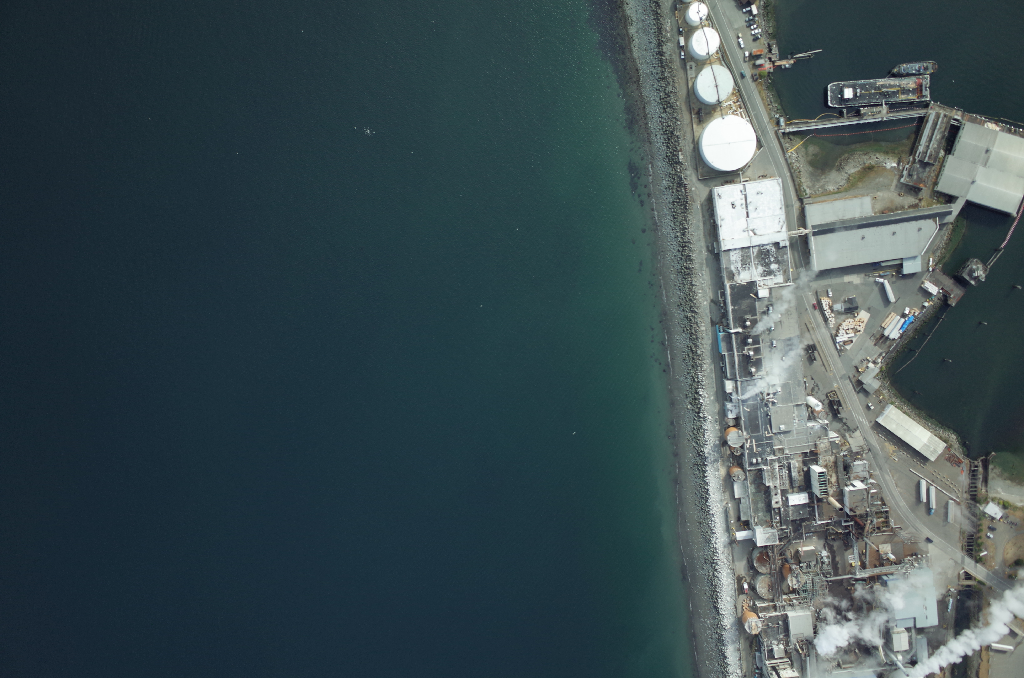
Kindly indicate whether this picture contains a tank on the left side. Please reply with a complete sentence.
No, no tank appears on the left side.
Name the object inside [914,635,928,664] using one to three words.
shed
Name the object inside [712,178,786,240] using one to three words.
building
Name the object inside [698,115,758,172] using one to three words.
storage tank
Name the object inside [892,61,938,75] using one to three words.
boat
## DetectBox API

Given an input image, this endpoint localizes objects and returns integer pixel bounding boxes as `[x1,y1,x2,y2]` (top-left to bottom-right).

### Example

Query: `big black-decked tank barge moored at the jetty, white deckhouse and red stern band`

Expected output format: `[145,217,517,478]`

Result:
[826,75,930,107]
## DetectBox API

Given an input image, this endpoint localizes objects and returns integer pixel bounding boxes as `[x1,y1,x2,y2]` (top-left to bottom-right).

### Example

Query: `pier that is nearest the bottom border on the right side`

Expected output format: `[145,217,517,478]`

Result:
[927,269,966,307]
